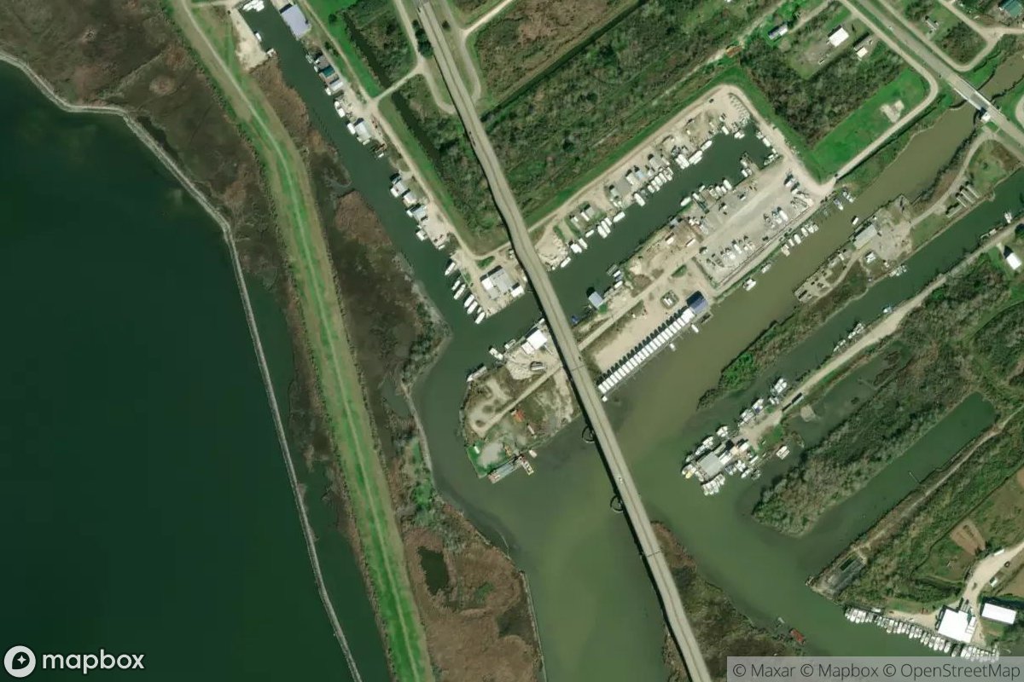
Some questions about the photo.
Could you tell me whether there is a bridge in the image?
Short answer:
Yes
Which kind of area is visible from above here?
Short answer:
port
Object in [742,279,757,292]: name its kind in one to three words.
boat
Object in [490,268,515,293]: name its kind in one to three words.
shed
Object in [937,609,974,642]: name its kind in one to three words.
building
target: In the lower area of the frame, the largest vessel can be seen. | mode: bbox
[489,458,521,480]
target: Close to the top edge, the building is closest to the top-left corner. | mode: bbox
[281,4,309,36]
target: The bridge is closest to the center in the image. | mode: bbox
[415,0,711,682]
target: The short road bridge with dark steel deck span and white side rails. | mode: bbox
[944,67,1008,127]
